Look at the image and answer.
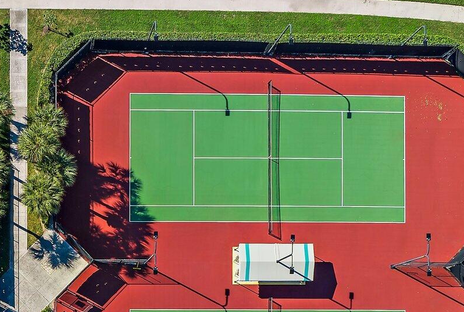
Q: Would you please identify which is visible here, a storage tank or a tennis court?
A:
tennis court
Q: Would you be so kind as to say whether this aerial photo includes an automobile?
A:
No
